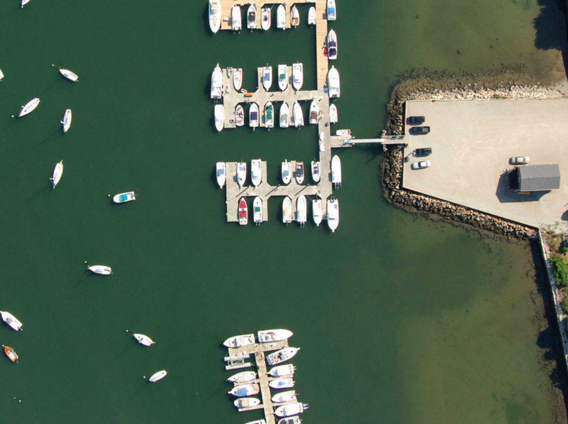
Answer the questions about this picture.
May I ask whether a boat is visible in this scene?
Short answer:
Yes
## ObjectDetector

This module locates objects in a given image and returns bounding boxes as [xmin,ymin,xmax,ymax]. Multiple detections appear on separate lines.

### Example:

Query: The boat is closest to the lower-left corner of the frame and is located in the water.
[4,346,19,364]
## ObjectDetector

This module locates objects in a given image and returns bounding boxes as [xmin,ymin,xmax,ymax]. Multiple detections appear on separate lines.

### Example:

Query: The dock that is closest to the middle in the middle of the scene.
[225,161,317,222]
